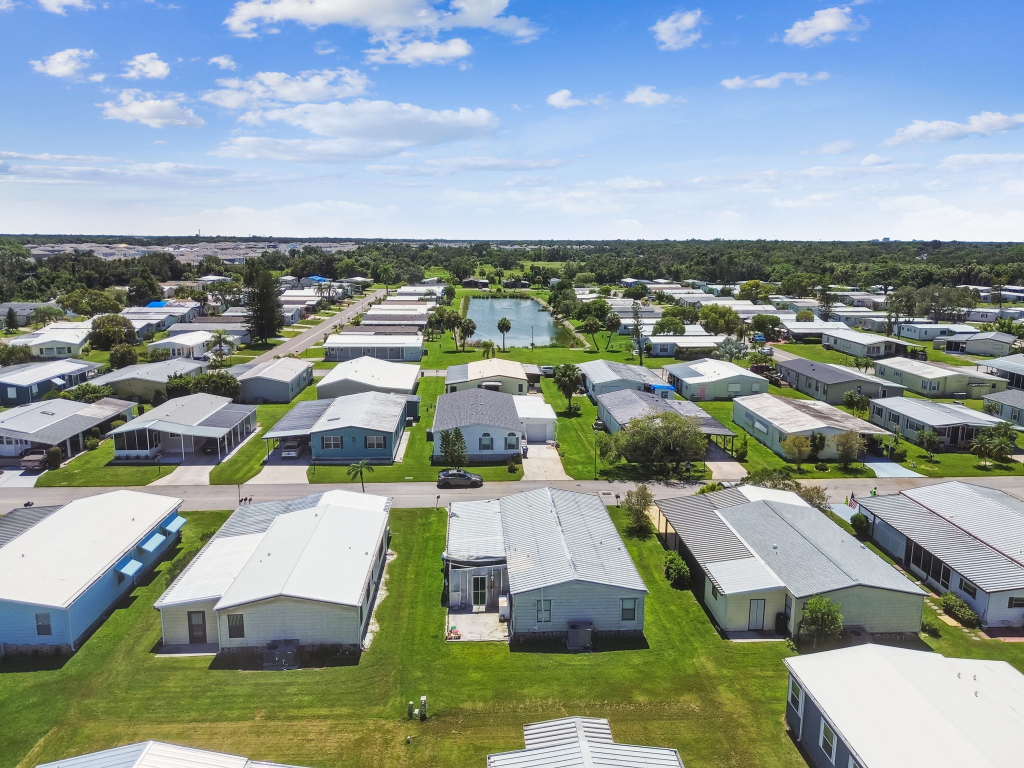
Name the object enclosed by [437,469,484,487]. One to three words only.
car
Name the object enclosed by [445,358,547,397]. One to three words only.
house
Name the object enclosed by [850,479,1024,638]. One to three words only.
house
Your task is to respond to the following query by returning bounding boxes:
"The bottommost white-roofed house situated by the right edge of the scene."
[781,643,1024,768]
